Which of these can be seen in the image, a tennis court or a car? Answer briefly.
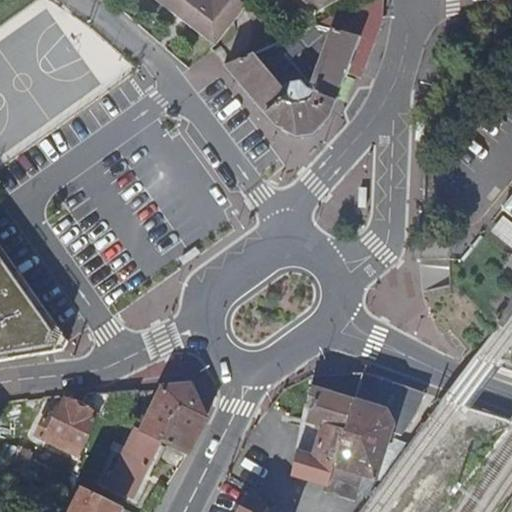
car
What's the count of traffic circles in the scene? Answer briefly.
1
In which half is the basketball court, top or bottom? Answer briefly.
top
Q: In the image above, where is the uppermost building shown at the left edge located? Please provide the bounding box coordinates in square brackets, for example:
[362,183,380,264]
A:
[0,244,68,364]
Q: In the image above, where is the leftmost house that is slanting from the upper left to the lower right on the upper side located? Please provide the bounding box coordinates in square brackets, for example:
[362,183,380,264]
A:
[224,52,282,110]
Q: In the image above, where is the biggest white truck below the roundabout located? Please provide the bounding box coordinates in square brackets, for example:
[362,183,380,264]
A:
[239,457,268,478]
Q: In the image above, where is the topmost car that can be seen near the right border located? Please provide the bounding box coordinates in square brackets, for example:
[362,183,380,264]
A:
[483,124,502,138]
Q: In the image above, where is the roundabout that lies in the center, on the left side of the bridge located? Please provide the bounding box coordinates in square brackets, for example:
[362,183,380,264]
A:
[226,266,322,352]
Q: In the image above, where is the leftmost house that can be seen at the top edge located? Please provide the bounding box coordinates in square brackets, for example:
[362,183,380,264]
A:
[156,0,244,43]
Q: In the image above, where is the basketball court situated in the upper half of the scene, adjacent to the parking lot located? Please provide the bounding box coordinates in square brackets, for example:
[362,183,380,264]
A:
[0,0,134,164]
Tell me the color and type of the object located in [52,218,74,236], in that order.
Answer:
white car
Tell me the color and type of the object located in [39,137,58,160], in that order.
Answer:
white car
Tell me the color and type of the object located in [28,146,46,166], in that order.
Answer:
gray car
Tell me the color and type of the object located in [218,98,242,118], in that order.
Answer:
white vehicle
